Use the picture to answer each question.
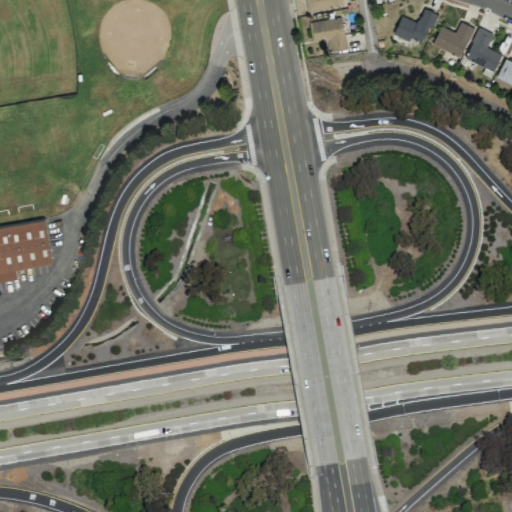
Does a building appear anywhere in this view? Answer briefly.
Yes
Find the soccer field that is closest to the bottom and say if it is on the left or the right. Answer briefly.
left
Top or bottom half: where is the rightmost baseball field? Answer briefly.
top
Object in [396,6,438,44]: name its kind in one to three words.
house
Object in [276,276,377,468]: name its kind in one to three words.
overpass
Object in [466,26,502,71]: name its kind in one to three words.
house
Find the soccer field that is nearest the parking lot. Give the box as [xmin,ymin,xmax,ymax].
[0,92,100,223]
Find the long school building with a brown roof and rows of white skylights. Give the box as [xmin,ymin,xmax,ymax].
[0,220,52,282]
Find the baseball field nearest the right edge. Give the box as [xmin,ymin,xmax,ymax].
[71,0,228,150]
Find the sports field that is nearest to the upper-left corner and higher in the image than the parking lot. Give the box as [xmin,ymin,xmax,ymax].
[0,0,76,104]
